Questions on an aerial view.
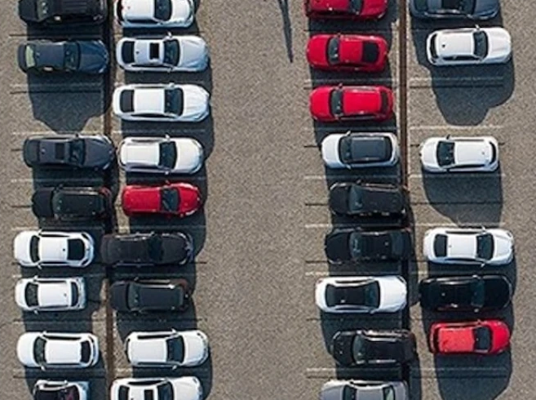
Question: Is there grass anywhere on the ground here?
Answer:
No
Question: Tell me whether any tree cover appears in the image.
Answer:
No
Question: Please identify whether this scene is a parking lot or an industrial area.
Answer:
parking lot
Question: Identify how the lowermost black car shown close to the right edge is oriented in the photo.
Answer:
from left to right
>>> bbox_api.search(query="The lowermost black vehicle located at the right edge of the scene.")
[419,273,513,314]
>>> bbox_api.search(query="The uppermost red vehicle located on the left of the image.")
[120,179,203,220]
